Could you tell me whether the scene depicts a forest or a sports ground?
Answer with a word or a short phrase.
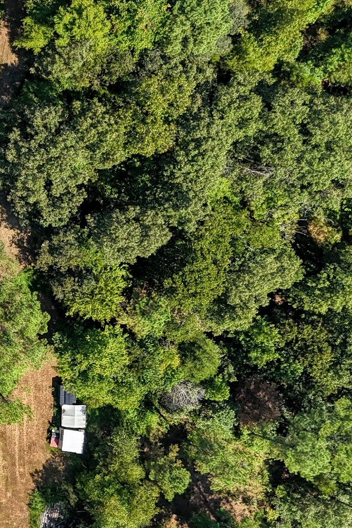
forest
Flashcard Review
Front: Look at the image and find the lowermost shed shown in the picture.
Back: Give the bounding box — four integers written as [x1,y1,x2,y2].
[56,426,85,455]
